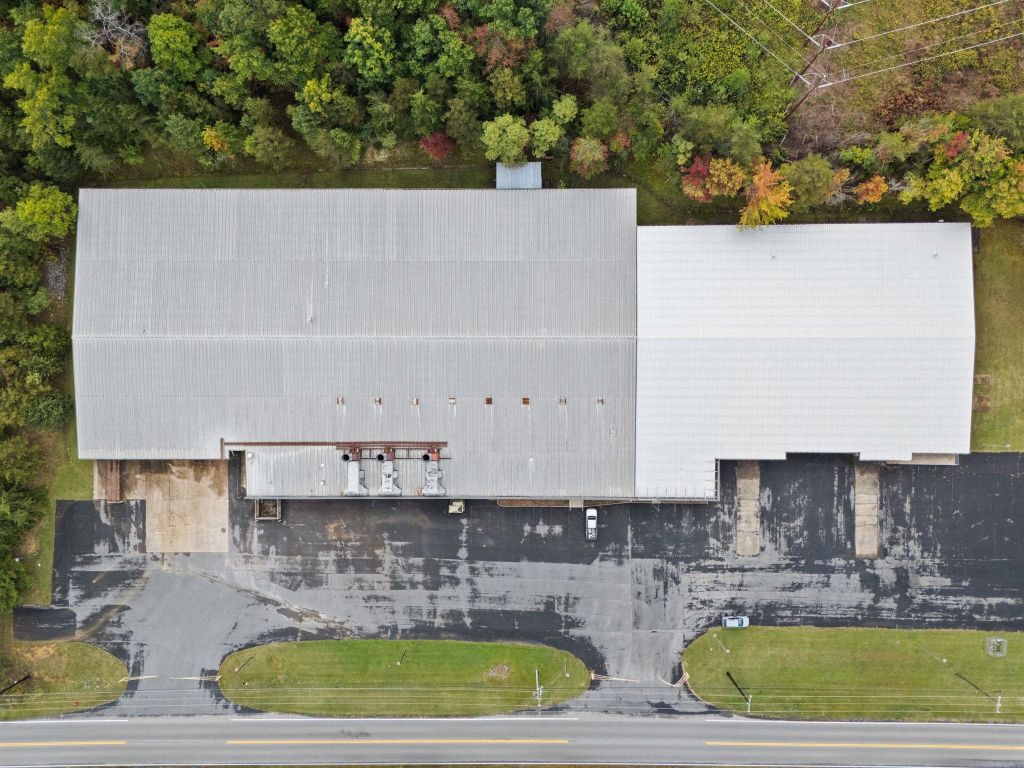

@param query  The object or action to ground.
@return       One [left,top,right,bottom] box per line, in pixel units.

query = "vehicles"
[720,614,748,628]
[585,508,598,540]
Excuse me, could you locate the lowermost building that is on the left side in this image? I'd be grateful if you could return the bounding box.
[71,188,639,502]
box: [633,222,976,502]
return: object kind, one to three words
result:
warehouse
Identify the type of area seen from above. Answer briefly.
industrial area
